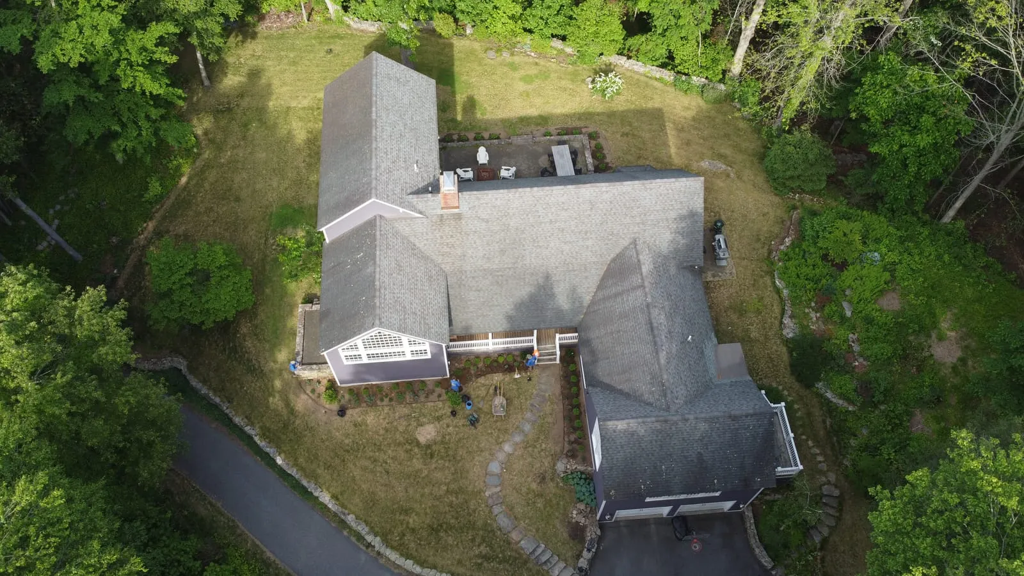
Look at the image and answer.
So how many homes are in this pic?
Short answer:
1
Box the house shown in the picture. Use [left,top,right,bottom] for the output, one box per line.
[316,52,805,520]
